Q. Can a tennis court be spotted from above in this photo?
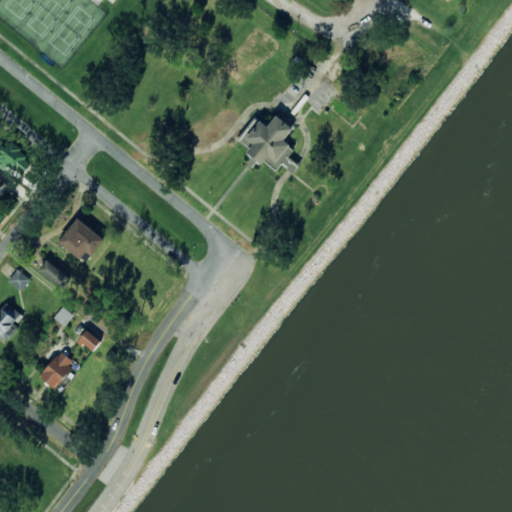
Yes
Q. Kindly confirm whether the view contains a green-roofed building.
Yes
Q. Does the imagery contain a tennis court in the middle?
No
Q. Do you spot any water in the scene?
Yes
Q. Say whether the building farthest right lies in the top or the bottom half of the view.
top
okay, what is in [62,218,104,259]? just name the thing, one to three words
house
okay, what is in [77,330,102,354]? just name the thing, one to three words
building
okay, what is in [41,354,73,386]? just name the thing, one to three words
house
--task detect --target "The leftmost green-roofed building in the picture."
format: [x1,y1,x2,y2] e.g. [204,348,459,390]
[0,140,29,176]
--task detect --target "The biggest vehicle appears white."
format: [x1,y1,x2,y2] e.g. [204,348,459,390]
[292,96,308,116]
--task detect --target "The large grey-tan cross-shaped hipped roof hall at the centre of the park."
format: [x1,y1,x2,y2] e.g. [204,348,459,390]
[236,116,294,174]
